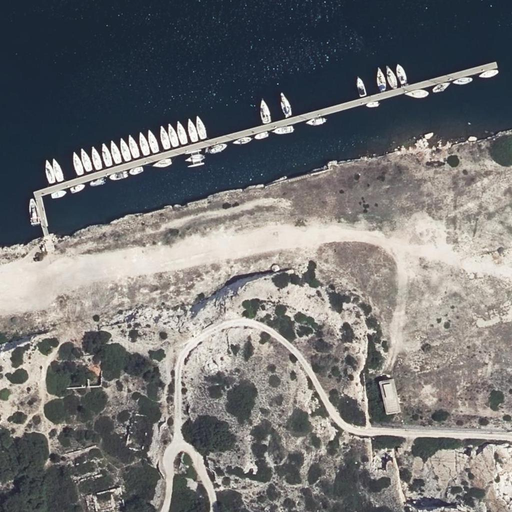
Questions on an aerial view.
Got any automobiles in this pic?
No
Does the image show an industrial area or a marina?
marina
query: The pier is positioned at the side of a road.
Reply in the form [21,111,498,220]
[32,62,498,239]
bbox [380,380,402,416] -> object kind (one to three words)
building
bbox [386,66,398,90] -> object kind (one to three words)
boat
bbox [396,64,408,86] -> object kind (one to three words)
boat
